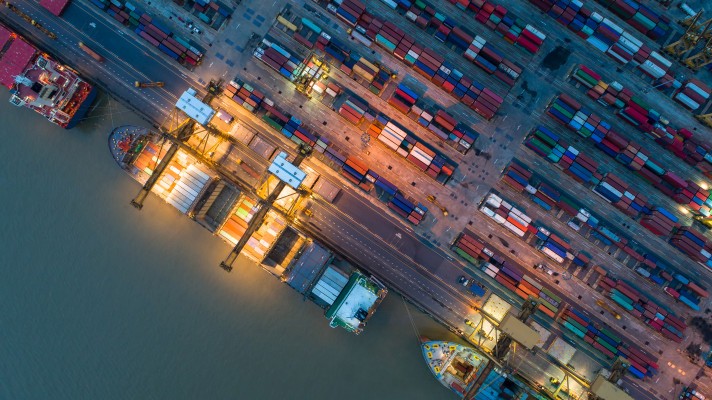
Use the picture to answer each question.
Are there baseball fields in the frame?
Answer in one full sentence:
No, there's no baseball field here.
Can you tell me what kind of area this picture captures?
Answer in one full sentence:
What you see here is a port.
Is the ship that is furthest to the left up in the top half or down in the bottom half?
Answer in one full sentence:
It is in the top half that the ship that is furthest to the left appears.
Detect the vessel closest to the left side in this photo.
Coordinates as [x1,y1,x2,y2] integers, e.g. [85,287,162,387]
[0,20,104,127]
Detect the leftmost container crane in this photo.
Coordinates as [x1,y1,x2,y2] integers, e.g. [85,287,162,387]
[127,77,236,210]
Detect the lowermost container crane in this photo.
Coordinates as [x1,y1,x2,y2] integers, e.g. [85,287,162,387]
[534,353,634,400]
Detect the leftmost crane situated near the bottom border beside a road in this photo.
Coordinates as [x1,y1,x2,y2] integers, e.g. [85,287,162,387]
[458,292,544,400]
